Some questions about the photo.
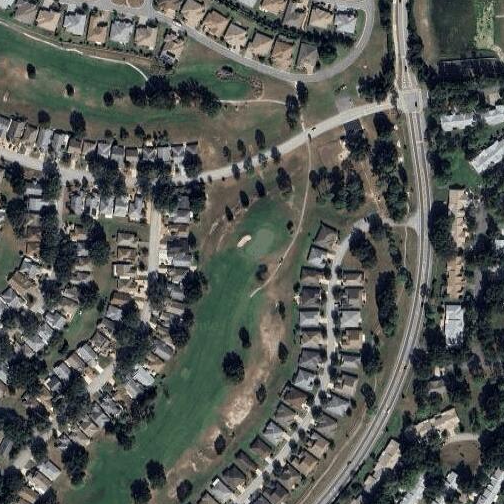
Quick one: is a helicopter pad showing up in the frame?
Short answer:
No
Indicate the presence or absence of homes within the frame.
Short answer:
Yes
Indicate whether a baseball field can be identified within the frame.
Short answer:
No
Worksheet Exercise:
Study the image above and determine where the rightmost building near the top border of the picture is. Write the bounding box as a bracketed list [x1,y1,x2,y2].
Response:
[334,8,357,32]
